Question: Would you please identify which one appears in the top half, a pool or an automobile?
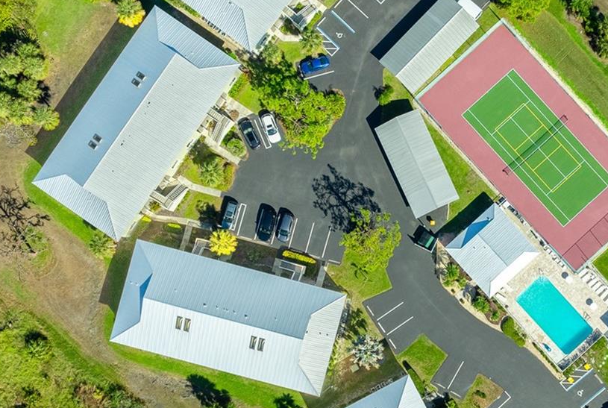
automobile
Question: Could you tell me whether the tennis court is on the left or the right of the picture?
right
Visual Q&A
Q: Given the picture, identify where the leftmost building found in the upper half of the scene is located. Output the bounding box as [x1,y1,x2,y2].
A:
[31,7,243,242]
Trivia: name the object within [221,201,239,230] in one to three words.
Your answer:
car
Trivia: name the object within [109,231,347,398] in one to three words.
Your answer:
building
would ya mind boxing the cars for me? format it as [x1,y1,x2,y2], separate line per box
[261,113,282,145]
[278,212,295,242]
[257,206,275,241]
[240,120,262,150]
[301,56,331,73]
[221,201,239,230]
